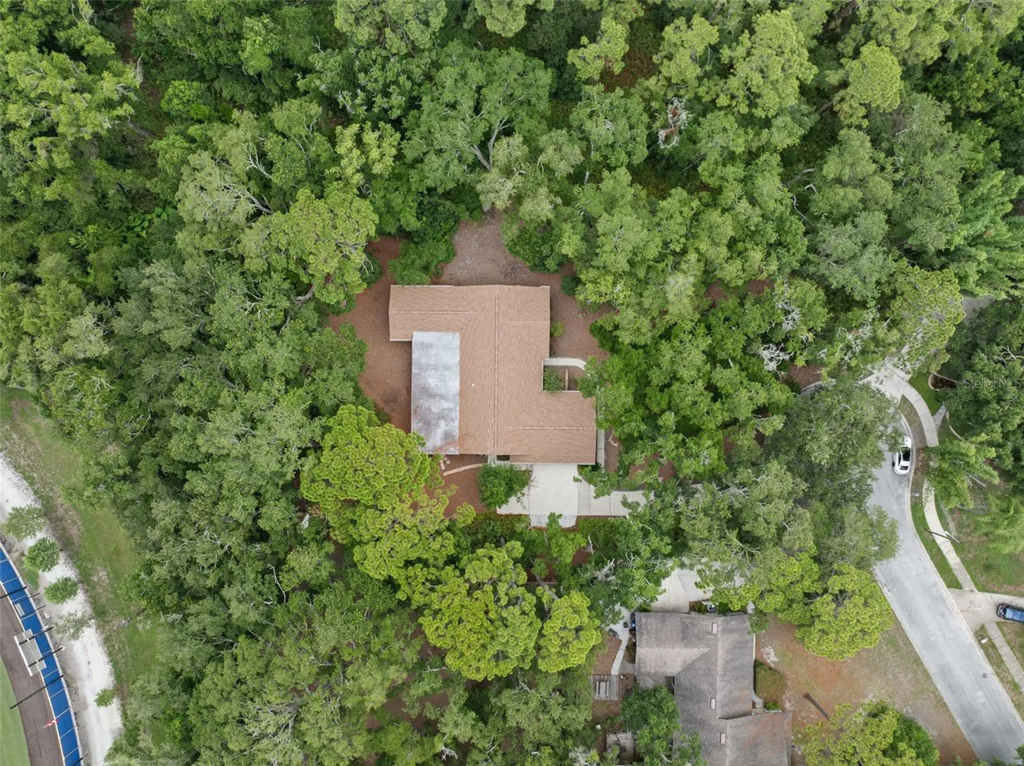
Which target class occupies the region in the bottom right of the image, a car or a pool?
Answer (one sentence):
You can see a car in the bottom right of the image.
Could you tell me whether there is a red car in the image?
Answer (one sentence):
No, there isn't any red car down there.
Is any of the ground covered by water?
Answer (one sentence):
No, there is no water in the image.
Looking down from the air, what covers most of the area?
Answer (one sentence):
What you mostly see from above here is trees.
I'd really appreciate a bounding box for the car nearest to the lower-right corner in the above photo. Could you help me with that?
[999,603,1024,625]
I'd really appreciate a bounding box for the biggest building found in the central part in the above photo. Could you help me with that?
[388,283,598,464]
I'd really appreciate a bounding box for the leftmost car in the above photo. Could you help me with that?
[894,435,917,475]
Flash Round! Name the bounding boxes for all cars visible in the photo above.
[894,435,917,475]
[999,603,1024,625]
